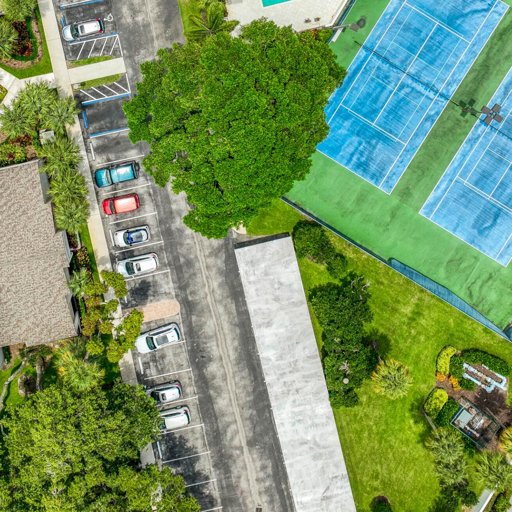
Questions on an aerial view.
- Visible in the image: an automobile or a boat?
automobile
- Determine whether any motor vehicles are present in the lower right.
No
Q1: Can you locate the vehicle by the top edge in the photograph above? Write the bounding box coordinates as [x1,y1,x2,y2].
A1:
[63,18,107,42]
